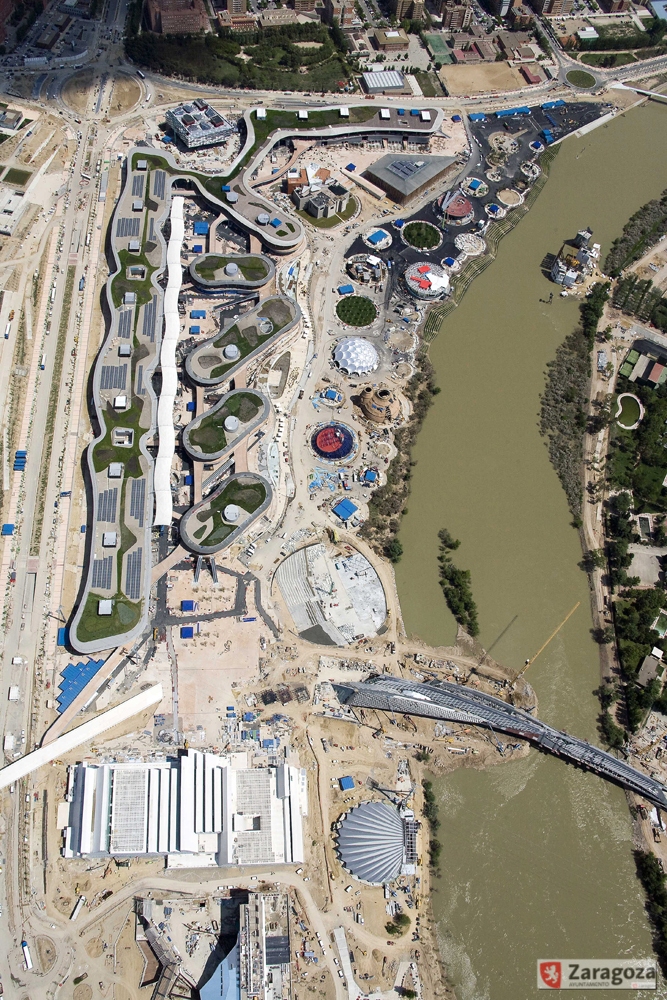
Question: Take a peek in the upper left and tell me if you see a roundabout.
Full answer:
Yes, a roundabout can be seen in the upper left.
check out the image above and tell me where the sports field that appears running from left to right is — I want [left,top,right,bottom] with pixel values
[443,62,528,96]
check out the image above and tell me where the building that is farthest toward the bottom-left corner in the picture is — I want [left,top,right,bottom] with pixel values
[134,896,195,1000]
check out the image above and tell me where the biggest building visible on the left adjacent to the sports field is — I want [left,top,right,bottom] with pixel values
[69,105,444,659]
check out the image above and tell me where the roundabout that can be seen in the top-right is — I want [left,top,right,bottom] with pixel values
[561,65,601,92]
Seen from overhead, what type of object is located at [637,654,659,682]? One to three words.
house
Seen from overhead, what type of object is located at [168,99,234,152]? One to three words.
building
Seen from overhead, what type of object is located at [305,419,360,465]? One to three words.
building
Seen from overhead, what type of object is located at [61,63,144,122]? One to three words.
roundabout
